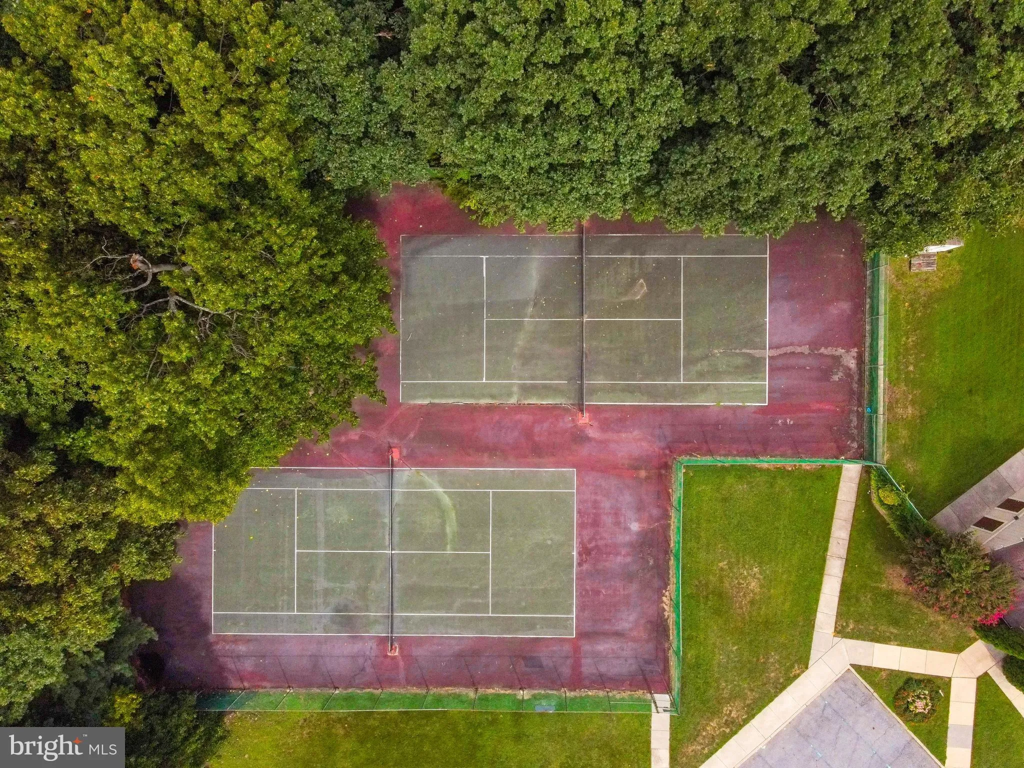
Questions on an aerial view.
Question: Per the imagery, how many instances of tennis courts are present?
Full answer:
In total, 2 tennis courts can be seen.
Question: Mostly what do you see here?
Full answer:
The largest share of the image is taken up by trees.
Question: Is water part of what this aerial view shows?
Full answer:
No, there's no water in this view.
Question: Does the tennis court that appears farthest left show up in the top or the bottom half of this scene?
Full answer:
The tennis court that appears farthest left sits in the bottom half of the picture.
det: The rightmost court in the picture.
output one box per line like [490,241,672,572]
[400,234,769,405]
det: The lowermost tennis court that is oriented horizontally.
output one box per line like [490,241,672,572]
[212,467,576,637]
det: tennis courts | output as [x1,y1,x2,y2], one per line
[212,467,576,637]
[400,234,769,405]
